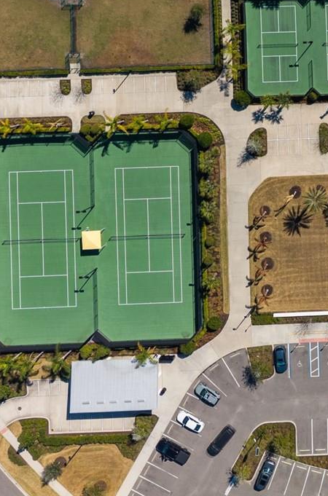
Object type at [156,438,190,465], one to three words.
truck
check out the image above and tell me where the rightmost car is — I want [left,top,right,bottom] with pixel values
[273,345,287,374]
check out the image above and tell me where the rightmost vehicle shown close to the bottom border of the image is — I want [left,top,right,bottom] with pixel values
[254,460,276,490]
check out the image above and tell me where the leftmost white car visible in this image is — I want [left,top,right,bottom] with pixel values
[177,411,205,433]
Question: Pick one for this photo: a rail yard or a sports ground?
sports ground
